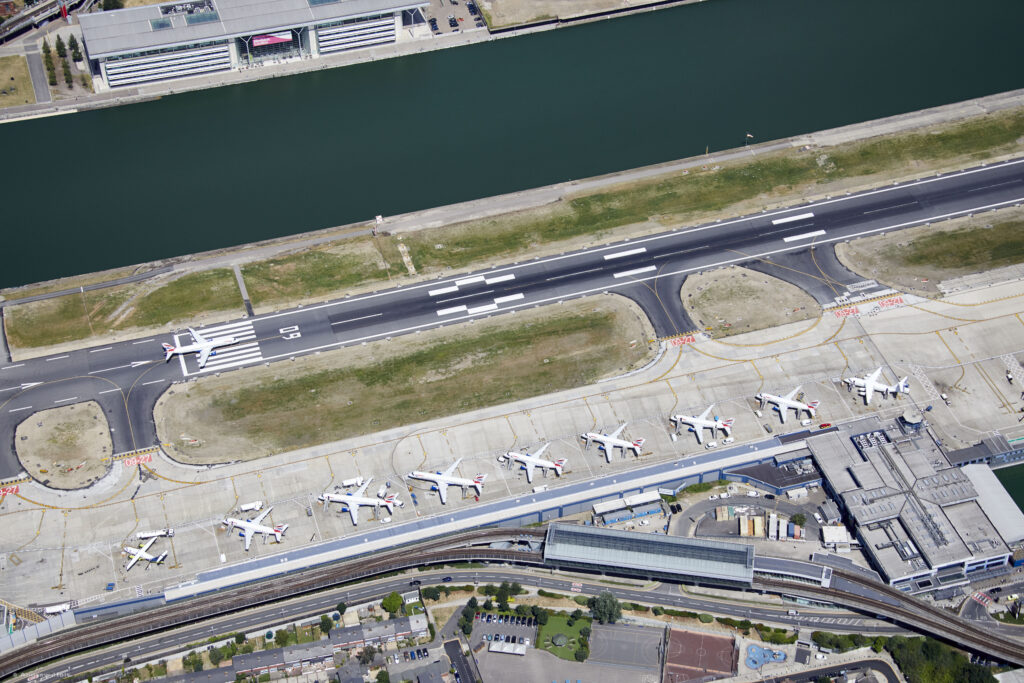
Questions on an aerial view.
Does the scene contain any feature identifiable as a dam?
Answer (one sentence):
No, the frame has no dam in it.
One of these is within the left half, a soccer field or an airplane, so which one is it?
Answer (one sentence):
There is an airplane within the left half.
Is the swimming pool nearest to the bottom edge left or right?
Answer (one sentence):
The swimming pool nearest to the bottom edge sits on the right side.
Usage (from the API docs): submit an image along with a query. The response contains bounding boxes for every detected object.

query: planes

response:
[503,440,570,481]
[317,477,398,525]
[755,382,821,422]
[669,400,736,441]
[162,323,241,366]
[579,420,646,461]
[843,364,913,403]
[406,457,488,504]
[122,532,169,571]
[221,505,288,548]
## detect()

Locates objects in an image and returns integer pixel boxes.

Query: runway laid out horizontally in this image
[0,157,1024,420]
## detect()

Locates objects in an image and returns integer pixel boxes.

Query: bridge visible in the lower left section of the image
[0,526,548,678]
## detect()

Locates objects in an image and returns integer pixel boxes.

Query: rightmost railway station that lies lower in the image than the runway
[538,523,756,600]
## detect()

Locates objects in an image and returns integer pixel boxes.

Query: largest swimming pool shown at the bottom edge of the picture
[745,644,787,670]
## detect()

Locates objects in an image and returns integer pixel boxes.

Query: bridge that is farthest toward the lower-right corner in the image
[750,553,1024,669]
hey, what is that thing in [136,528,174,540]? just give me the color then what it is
white vehicle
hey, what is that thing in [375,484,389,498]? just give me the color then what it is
white vehicle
